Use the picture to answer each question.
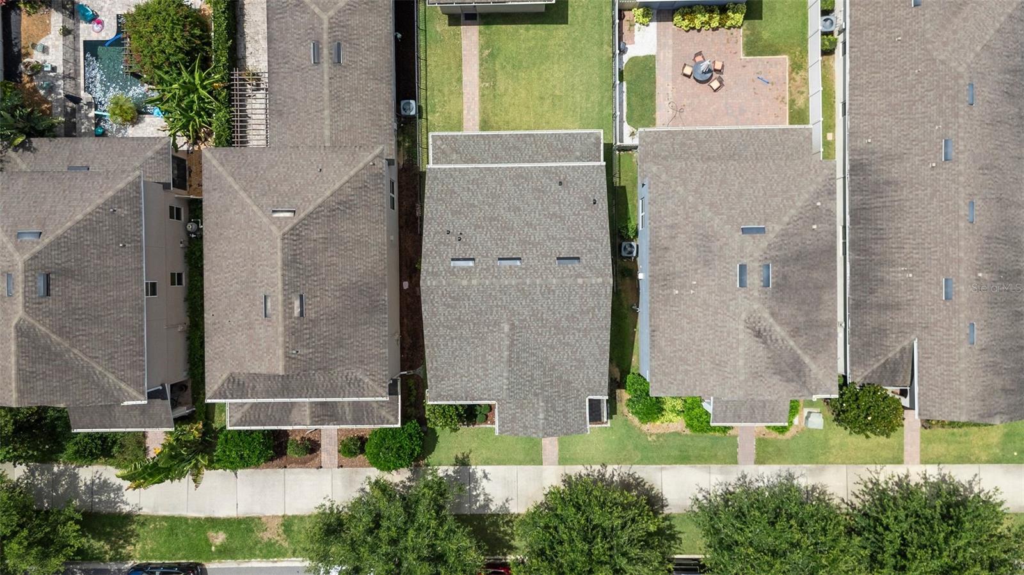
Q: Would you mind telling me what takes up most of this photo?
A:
buildings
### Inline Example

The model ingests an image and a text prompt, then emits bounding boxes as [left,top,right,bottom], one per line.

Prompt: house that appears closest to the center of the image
[421,130,612,438]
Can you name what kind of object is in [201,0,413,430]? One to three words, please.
house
